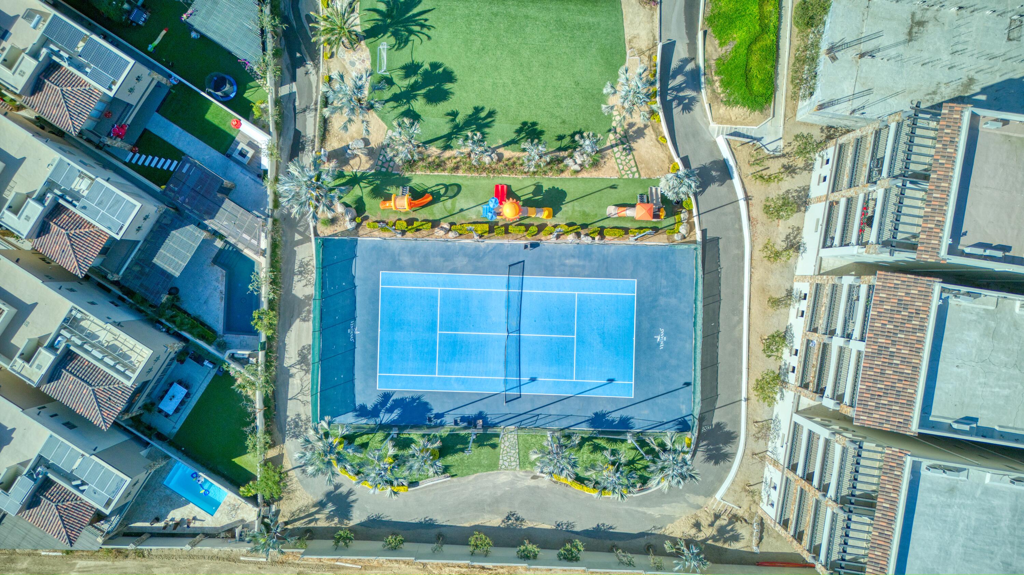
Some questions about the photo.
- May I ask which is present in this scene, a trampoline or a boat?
trampoline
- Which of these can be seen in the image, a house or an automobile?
house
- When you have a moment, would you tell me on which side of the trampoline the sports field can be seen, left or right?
to the right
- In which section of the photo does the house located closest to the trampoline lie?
top left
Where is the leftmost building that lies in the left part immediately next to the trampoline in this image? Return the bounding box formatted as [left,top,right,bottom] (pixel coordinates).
[0,0,188,159]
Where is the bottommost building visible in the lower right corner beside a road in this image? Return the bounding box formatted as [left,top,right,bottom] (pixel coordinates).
[761,408,1024,575]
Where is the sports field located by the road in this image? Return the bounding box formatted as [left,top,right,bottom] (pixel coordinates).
[359,0,626,152]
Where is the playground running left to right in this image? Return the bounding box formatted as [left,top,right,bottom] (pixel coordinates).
[323,170,683,229]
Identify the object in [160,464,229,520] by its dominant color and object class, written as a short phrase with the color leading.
blue swimming pool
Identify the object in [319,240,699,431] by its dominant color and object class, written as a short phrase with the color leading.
blue tennis court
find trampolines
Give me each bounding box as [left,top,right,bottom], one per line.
[200,67,237,102]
